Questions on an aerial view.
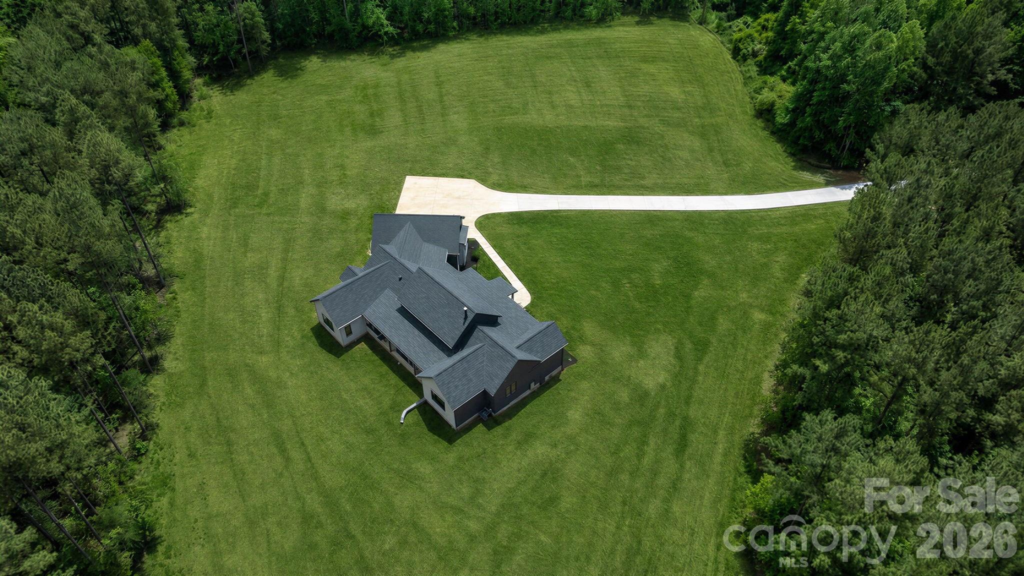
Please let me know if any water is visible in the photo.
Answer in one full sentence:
No, water can't be seen anywhere here.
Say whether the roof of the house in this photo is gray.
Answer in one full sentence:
Yes, the roof of the house is indeed gray.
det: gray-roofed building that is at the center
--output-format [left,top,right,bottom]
[310,213,569,430]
